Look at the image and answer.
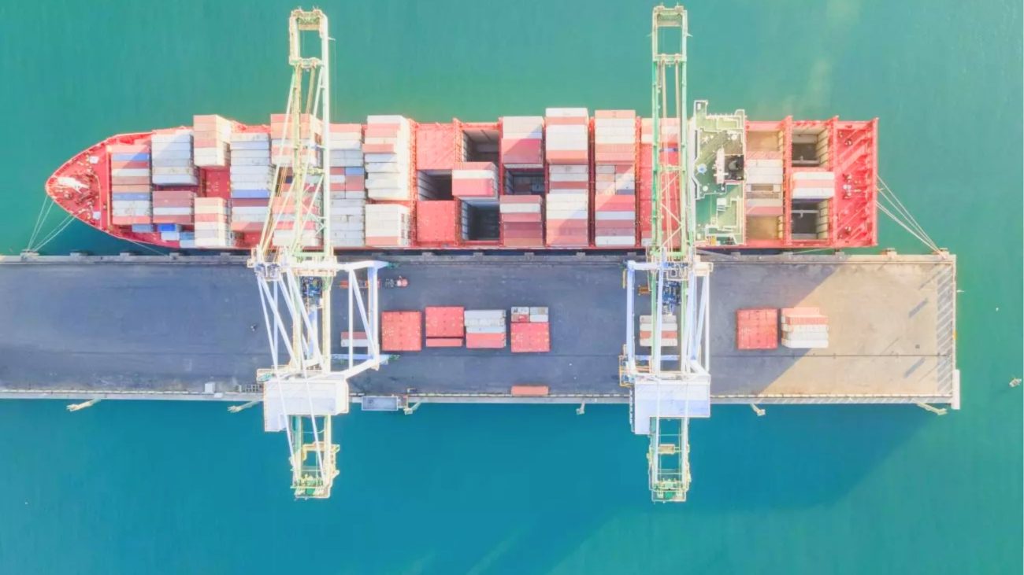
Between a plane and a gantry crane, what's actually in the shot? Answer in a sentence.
Visible in the photo is a gantry crane.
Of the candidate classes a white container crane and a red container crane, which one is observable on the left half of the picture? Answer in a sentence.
You can see a white container crane on the left half of the picture.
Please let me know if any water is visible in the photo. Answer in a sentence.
Yes, water shows up in the scene.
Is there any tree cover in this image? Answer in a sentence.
No, there is no tree cover in the image.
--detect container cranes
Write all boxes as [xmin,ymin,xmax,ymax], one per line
[613,0,712,505]
[240,3,403,501]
